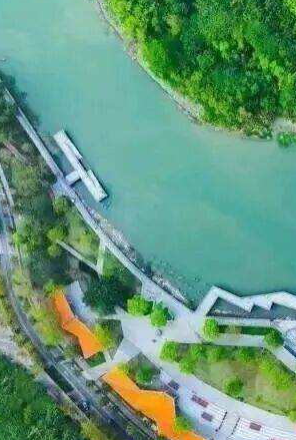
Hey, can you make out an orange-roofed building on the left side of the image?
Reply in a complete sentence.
Yes, I can see an orange-roofed building on the left side of the image.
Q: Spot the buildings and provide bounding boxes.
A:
[102,367,205,440]
[54,287,102,359]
